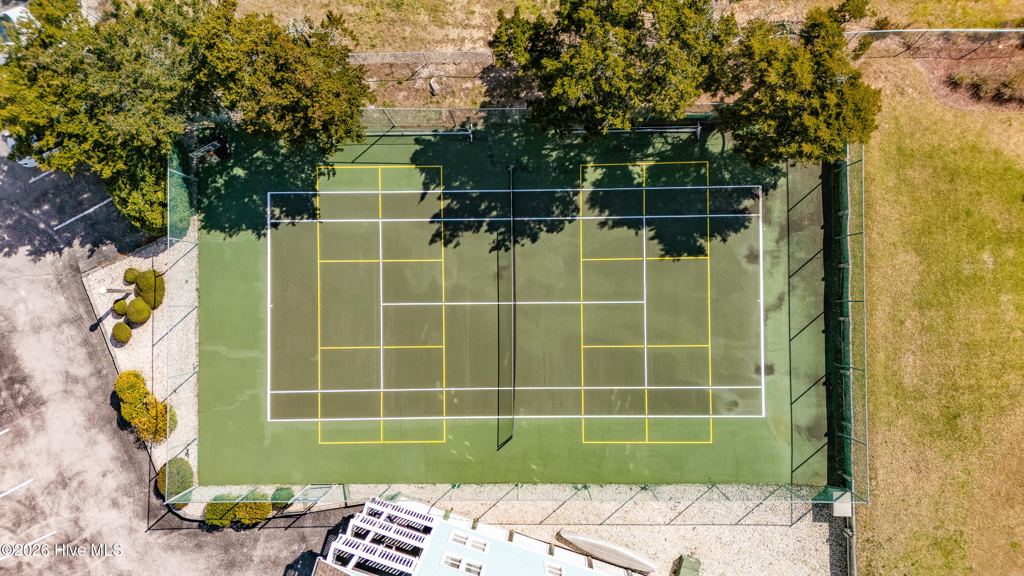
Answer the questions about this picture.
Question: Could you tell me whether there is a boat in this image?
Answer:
Yes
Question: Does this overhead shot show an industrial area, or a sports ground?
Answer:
sports ground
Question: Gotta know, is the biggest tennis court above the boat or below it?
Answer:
above it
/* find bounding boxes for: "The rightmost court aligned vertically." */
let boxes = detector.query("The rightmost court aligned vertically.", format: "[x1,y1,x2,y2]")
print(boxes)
[580,161,712,443]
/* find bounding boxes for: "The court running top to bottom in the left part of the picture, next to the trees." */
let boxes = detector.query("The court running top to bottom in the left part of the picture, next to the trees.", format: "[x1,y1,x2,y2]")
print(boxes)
[317,165,445,444]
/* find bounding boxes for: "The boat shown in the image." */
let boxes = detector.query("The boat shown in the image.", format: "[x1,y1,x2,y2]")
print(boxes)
[559,531,656,575]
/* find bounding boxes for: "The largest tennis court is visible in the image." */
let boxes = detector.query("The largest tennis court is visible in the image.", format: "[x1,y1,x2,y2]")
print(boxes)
[197,123,829,485]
